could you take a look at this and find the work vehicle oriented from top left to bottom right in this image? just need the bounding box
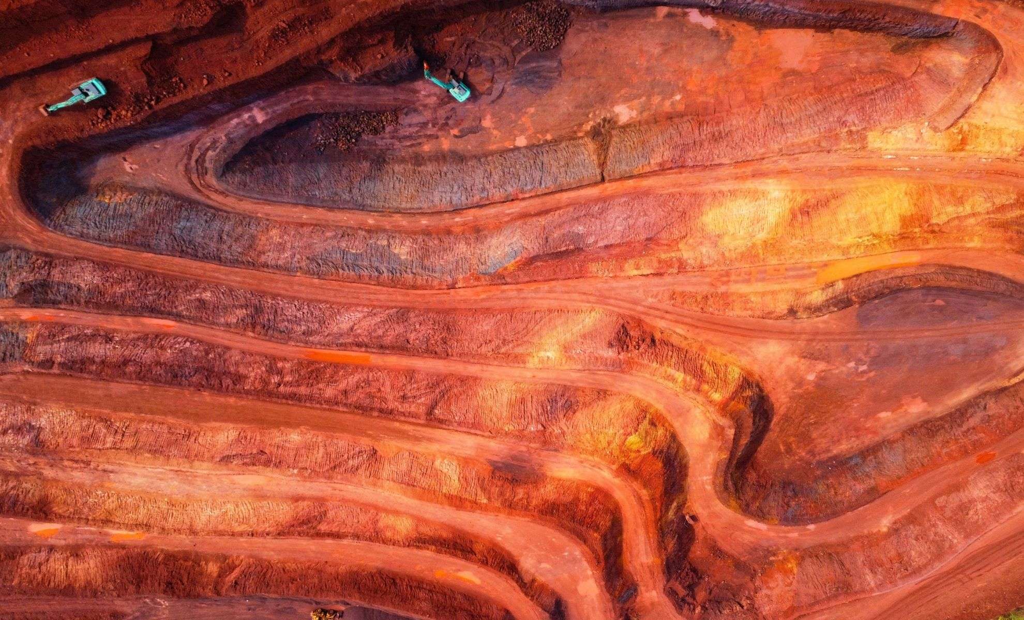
[424,58,470,100]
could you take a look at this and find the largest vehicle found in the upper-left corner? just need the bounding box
[45,74,102,115]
